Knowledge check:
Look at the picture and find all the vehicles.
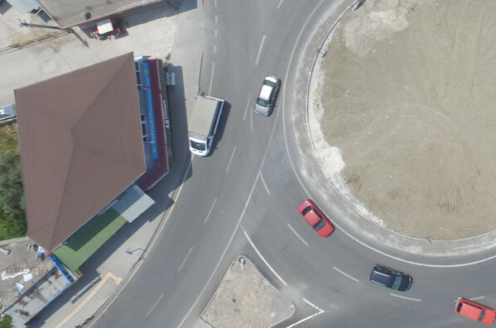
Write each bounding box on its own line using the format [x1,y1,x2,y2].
[256,74,282,117]
[453,297,496,325]
[297,199,336,238]
[370,265,414,292]
[90,19,123,38]
[192,95,226,155]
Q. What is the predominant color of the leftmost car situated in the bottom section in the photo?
red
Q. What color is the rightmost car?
red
